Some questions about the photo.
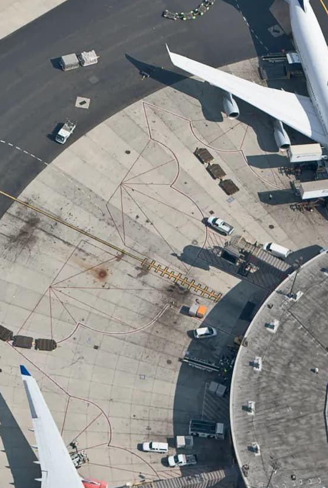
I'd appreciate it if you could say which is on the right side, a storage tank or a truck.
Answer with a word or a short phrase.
truck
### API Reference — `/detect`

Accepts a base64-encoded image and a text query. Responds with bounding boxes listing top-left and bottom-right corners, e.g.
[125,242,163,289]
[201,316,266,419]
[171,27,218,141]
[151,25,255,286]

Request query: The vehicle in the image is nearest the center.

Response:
[207,218,235,237]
